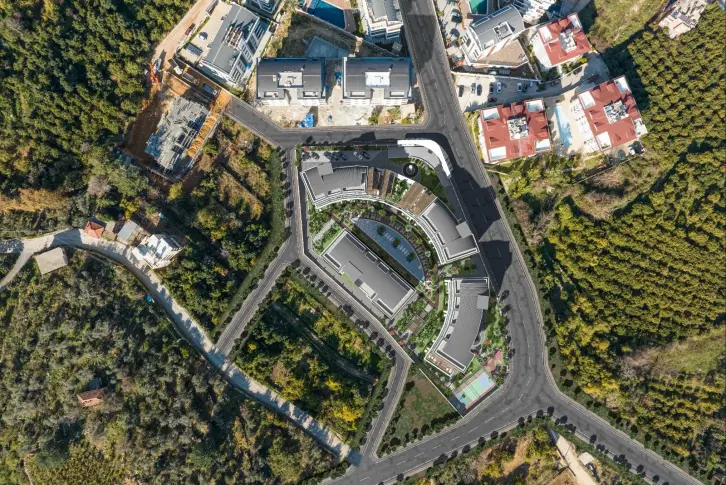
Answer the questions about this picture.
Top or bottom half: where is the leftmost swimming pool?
top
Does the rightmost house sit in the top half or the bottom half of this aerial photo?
top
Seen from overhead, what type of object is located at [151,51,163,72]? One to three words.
vehicle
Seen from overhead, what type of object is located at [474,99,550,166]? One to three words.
house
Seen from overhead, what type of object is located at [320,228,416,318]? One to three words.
building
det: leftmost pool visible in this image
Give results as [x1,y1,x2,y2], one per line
[306,0,345,30]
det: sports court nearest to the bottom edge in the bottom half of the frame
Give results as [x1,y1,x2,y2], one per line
[452,368,500,414]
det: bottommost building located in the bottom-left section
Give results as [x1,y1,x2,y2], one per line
[78,388,107,406]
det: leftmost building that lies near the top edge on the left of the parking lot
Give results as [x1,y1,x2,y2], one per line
[203,2,267,82]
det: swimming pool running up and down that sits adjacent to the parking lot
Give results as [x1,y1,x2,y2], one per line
[554,103,573,147]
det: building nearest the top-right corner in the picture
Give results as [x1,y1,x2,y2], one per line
[652,0,708,42]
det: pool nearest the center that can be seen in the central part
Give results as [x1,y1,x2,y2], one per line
[352,218,425,282]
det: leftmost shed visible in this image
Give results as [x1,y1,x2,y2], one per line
[35,247,70,274]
